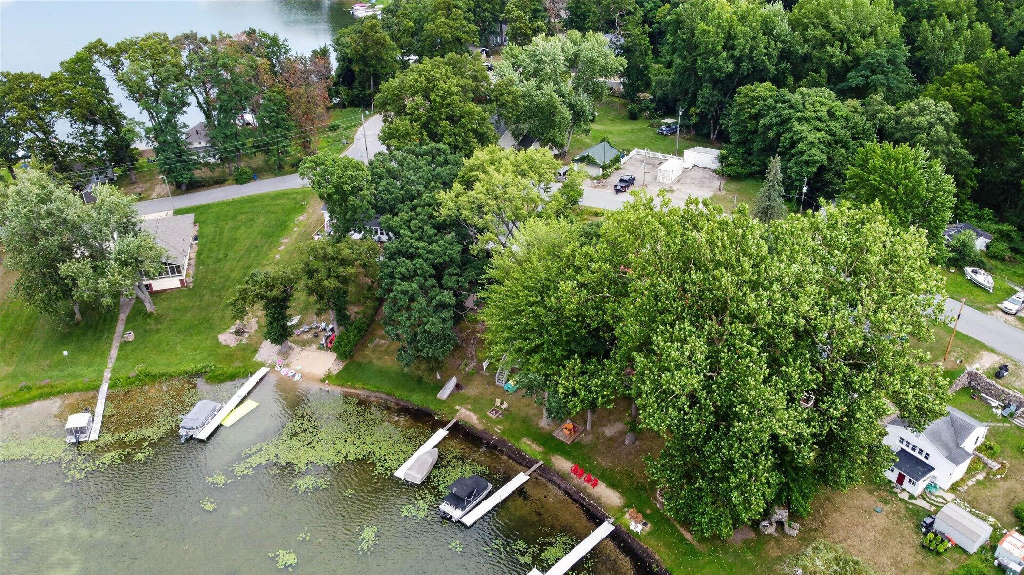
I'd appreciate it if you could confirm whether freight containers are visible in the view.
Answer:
Yes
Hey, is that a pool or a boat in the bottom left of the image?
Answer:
boat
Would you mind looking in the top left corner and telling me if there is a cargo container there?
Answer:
No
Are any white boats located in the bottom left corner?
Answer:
Yes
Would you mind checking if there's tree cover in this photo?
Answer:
Yes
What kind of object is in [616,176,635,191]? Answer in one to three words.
vehicle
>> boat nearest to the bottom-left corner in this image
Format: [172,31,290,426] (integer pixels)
[64,406,91,447]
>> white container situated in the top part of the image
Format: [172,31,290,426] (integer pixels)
[657,158,683,183]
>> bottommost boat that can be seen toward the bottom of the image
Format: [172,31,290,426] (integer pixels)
[446,470,498,520]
